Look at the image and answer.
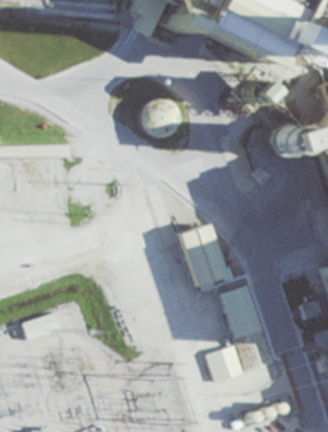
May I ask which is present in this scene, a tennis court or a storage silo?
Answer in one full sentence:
Looking from above, you can make out a storage silo.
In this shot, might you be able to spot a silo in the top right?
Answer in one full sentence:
Yes, looking in the top right, one can make out a silo.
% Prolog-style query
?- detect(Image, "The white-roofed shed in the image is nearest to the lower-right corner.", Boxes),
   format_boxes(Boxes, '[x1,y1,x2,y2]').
[203,346,244,382]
